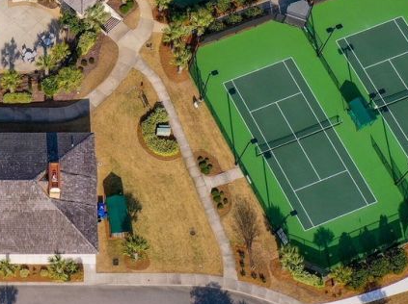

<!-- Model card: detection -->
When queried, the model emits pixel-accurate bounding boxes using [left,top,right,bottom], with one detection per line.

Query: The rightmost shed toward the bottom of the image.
[101,194,130,246]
